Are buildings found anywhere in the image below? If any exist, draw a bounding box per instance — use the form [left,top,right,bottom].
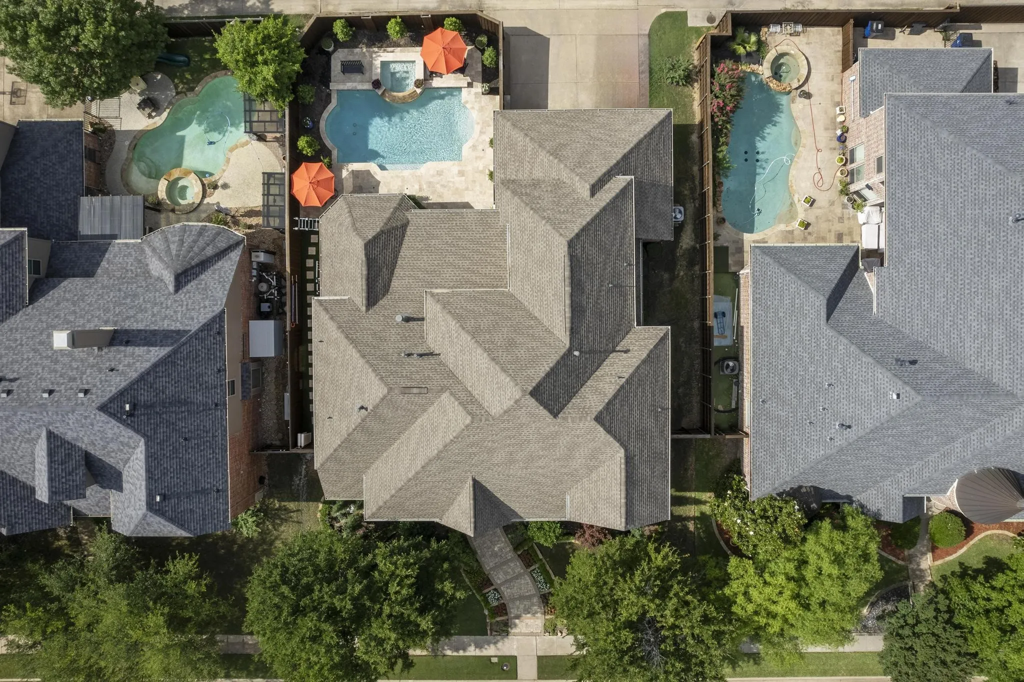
[310,106,676,537]
[0,118,272,538]
[741,46,1024,527]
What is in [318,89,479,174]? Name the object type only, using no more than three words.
swimming pool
